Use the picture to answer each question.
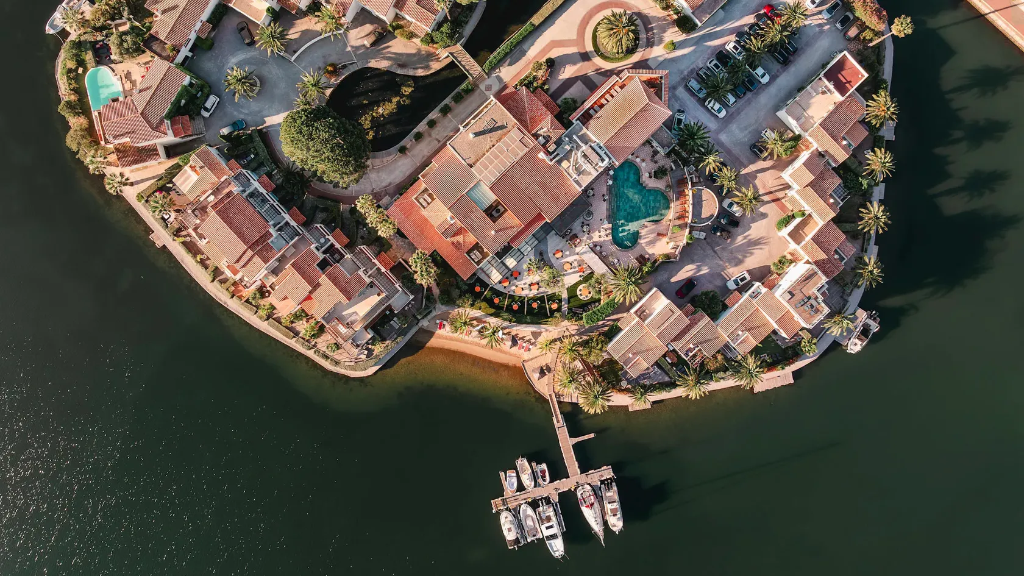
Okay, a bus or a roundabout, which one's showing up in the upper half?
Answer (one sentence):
Visible in the upper half is a roundabout.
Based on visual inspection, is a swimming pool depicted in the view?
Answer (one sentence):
Yes, a swimming pool appears in the view.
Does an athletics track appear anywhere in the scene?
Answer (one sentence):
No, there is no athletics track in the image.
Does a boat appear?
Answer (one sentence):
Yes, looking at the shot, I can spot a boat.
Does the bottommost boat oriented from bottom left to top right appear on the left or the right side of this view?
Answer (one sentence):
The bottommost boat oriented from bottom left to top right appears in the right half of the scene.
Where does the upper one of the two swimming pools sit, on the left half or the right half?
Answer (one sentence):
It is on the left.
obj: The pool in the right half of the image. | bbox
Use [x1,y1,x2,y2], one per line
[609,159,672,252]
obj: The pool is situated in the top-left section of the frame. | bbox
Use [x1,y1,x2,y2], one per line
[84,66,124,111]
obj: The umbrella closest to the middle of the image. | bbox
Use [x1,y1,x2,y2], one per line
[505,333,521,349]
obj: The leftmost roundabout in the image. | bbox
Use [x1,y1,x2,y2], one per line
[577,1,655,78]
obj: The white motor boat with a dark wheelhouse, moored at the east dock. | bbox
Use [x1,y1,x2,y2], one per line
[846,309,881,352]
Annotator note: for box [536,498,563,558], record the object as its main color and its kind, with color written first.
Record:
white boat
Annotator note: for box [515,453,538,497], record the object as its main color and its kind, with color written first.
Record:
white boat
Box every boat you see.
[535,458,550,491]
[536,498,563,558]
[846,309,881,352]
[515,453,538,497]
[505,467,518,498]
[601,479,622,530]
[49,0,73,36]
[518,501,541,544]
[573,472,601,538]
[499,506,520,553]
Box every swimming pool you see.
[84,66,124,111]
[609,159,672,252]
